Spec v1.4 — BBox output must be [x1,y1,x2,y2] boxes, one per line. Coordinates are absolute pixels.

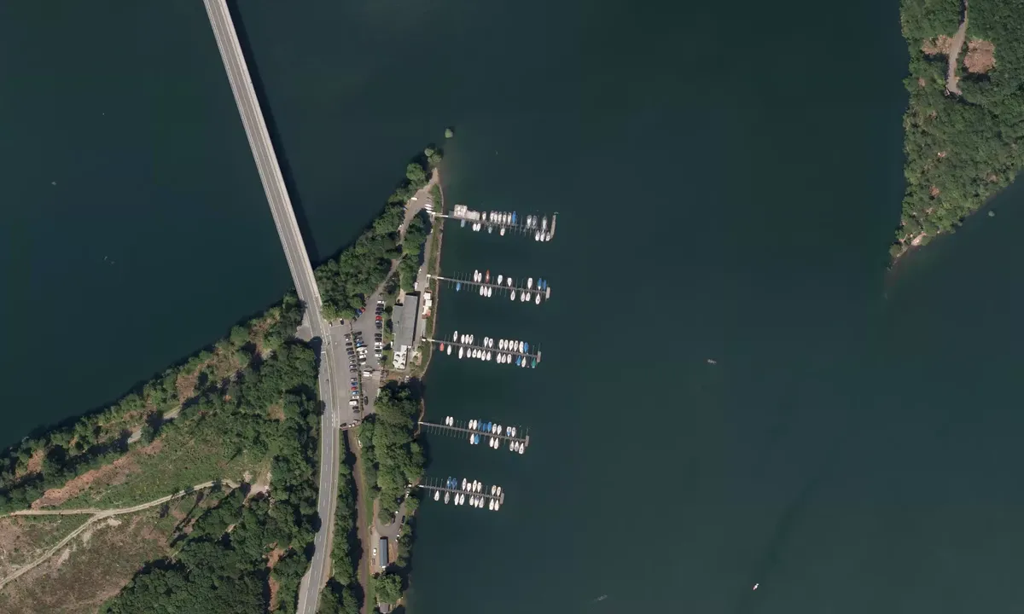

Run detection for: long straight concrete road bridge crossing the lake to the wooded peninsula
[203,0,320,306]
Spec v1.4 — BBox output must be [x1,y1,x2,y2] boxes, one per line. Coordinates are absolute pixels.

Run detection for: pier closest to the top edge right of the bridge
[434,214,556,238]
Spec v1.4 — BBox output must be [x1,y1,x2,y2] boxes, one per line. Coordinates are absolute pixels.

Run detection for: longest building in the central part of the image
[392,295,417,369]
